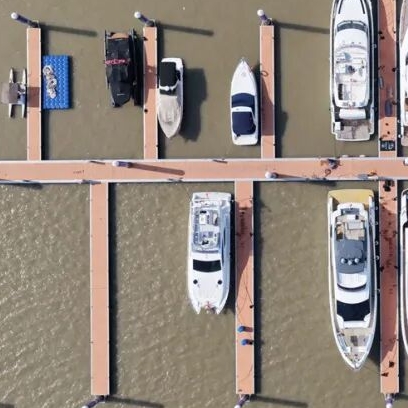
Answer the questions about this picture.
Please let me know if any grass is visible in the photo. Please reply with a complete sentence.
No, the picture contains no grass.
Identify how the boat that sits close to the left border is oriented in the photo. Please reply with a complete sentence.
The boat that sits close to the left border is oriented from top to bottom.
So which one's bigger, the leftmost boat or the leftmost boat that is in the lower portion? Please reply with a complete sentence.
The leftmost boat that is in the lower portion takes up more space than the leftmost boat.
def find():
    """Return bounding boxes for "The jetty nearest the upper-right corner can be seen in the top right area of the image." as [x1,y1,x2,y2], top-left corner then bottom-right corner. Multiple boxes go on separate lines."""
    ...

[378,0,397,158]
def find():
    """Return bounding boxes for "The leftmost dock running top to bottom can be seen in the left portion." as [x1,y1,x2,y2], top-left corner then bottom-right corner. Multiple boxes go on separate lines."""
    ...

[27,18,43,160]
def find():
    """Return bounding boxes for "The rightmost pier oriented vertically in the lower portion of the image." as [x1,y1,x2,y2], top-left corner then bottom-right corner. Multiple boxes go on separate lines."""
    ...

[379,180,399,402]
